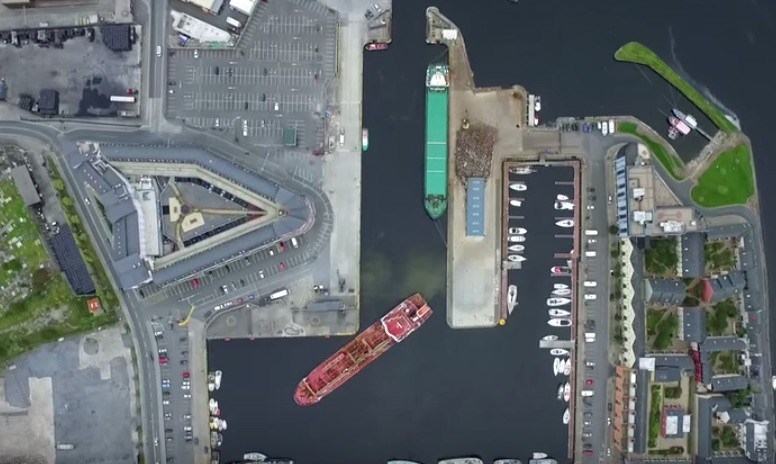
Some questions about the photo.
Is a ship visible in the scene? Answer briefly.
Yes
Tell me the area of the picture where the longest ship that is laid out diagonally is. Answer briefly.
bottom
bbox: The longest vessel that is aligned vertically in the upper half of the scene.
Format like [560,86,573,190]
[424,64,448,220]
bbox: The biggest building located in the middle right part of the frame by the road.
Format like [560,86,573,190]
[616,160,695,236]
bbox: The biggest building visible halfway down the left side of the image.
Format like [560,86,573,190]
[74,141,313,290]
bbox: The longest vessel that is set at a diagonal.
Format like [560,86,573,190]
[293,293,432,406]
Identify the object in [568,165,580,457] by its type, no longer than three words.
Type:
pier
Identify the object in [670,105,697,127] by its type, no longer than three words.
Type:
boat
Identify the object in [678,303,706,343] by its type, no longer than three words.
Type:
house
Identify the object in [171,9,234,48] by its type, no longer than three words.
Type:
building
